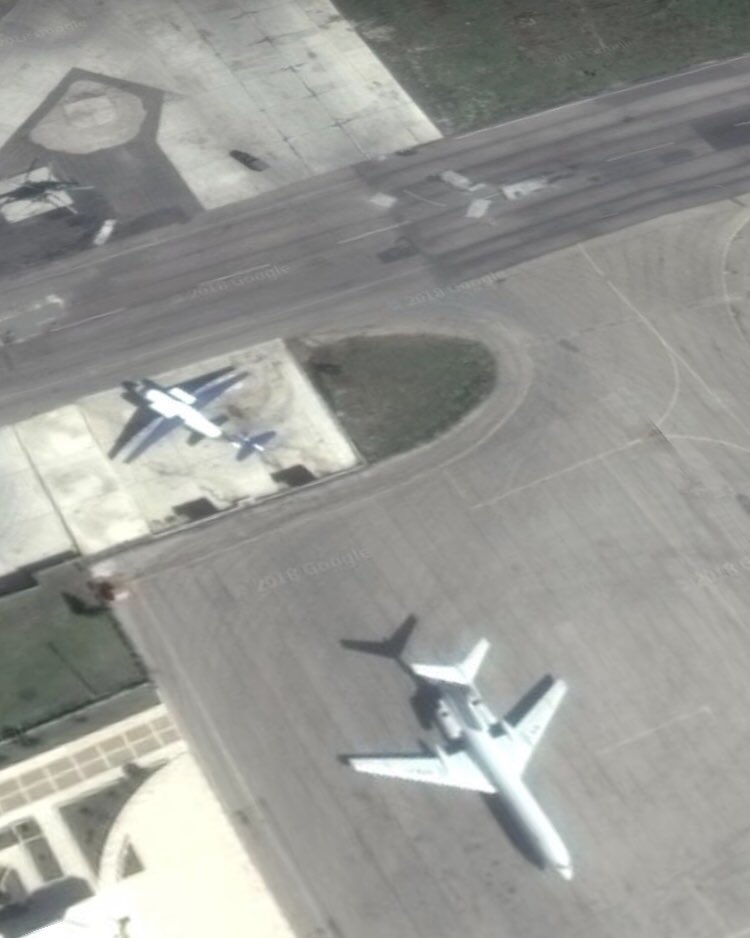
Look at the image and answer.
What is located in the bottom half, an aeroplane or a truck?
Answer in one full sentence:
The one visible in the bottom half is an aeroplane.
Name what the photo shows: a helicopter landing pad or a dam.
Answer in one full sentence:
Visible in the photo is a helicopter landing pad.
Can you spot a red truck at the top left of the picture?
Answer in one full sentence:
No, looking at the top left of the picture, there is no red truck.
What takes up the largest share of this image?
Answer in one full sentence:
The largest share of the image is taken up by paved ground.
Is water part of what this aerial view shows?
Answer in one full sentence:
No, there is no water in the image.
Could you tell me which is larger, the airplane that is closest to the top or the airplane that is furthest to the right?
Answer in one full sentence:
The airplane that is furthest to the right takes up more space than the airplane that is closest to the top.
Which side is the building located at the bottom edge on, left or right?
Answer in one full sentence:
You can find the building located at the bottom edge on the left side of the picture.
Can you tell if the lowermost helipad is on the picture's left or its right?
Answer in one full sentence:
The lowermost helipad is on the left side of the image.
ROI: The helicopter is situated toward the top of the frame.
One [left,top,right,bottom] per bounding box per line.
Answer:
[0,154,92,215]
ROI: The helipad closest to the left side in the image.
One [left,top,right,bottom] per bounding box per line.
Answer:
[0,167,73,222]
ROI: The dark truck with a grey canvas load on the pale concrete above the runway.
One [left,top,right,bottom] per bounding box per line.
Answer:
[234,146,270,169]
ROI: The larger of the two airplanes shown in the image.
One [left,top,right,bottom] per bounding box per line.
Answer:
[355,640,575,878]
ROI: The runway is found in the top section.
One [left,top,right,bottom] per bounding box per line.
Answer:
[0,54,750,430]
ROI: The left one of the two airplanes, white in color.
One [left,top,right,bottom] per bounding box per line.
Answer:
[126,371,282,467]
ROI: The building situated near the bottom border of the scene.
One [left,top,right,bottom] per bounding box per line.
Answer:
[16,895,117,938]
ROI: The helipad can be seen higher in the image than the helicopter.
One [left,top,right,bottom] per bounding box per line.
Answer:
[31,80,145,152]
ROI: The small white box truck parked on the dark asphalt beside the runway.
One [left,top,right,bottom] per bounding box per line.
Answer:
[90,215,115,243]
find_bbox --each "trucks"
[234,146,270,169]
[90,215,115,243]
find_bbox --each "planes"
[126,371,282,467]
[355,640,575,878]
